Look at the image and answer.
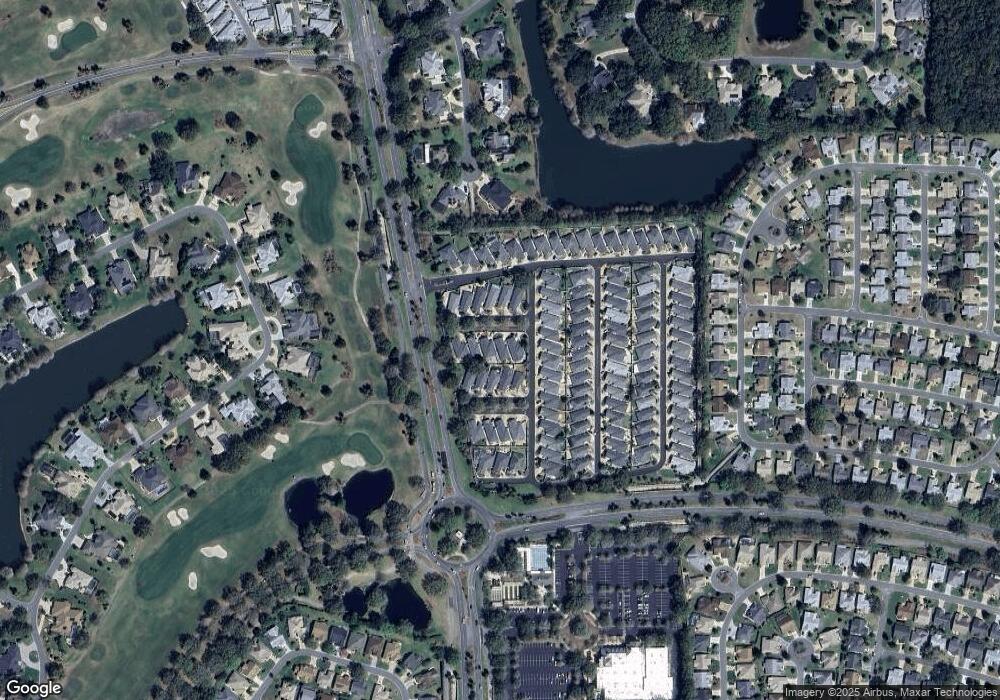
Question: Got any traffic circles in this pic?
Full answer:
Yes, a traffic circle can be made out from above.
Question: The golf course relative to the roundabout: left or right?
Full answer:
Compared with the roundabout, the golf course is located further to the left.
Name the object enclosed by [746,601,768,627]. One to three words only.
house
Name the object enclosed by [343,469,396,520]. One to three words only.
pond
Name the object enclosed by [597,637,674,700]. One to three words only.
building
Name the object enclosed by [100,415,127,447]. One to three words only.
house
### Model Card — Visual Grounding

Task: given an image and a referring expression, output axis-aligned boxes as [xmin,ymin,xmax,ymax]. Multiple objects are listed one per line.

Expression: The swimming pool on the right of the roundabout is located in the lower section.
[519,544,551,576]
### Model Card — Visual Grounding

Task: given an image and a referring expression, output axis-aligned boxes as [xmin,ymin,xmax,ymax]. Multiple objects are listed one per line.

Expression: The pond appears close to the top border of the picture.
[754,0,805,41]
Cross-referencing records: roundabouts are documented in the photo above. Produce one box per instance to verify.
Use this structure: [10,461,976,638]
[418,494,497,574]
